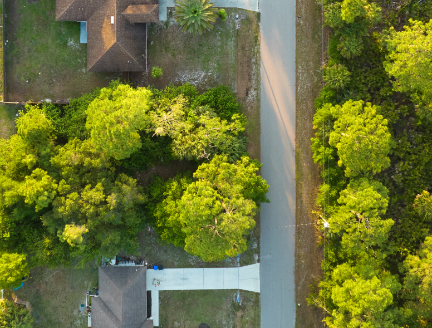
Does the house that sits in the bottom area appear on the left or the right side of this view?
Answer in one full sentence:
The house that sits in the bottom area appears in the left half of the scene.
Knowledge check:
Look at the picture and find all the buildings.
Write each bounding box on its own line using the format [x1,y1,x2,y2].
[55,0,160,72]
[91,264,153,328]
